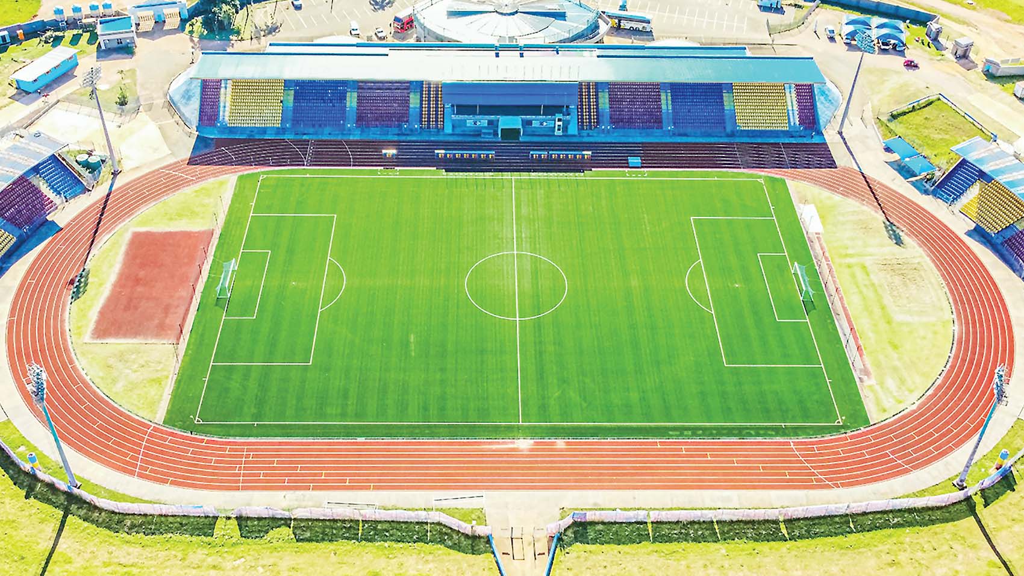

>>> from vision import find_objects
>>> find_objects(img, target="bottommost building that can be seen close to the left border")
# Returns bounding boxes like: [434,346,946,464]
[6,44,79,92]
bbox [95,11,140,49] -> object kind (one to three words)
house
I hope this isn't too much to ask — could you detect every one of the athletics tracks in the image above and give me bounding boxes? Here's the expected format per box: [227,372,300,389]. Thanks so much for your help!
[7,139,1014,490]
